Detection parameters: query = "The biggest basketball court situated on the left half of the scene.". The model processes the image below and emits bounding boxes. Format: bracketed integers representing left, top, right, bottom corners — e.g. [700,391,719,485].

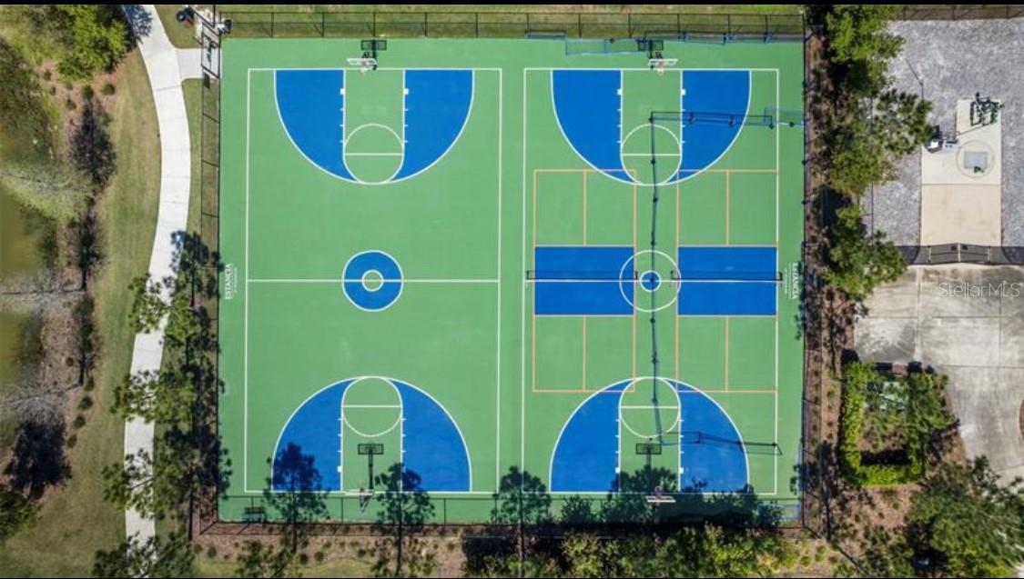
[216,37,512,523]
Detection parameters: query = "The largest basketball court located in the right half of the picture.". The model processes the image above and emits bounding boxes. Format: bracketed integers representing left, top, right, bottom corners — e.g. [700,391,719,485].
[509,37,804,523]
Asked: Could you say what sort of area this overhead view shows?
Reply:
sports ground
